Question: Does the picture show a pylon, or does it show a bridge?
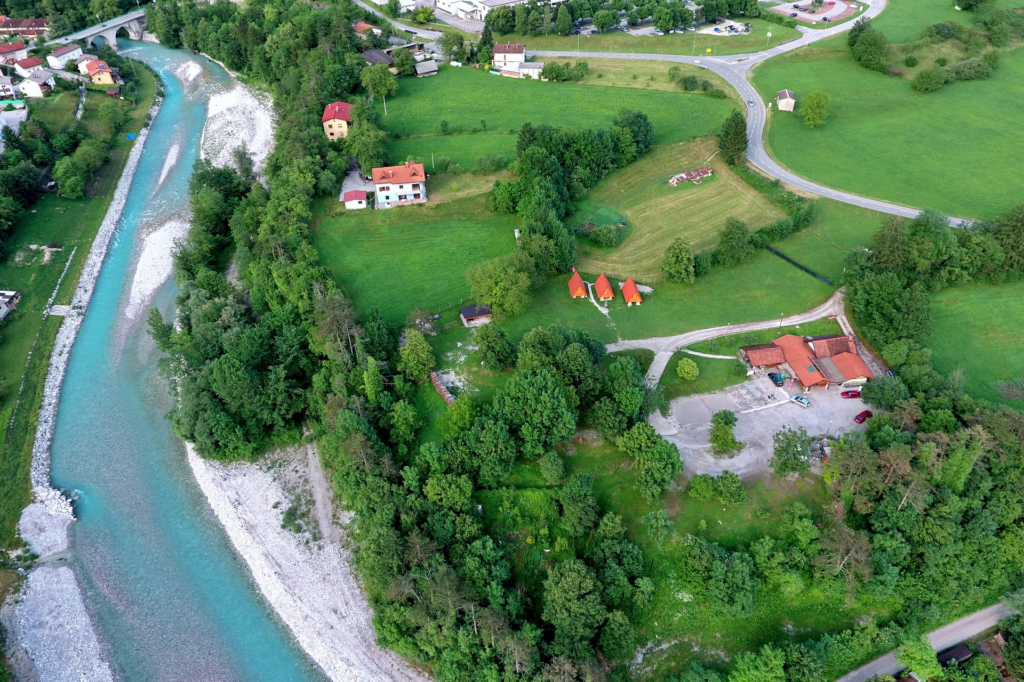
bridge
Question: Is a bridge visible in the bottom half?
No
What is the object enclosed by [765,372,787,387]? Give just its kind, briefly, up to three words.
car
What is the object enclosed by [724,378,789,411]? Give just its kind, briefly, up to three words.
sports court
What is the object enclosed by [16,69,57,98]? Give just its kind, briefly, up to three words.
house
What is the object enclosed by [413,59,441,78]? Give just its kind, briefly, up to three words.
barn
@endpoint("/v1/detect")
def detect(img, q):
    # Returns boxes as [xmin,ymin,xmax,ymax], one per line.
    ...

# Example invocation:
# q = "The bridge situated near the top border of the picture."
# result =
[22,9,155,52]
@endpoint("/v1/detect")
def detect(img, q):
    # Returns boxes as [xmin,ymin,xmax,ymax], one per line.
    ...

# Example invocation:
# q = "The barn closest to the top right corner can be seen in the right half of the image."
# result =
[775,88,796,111]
